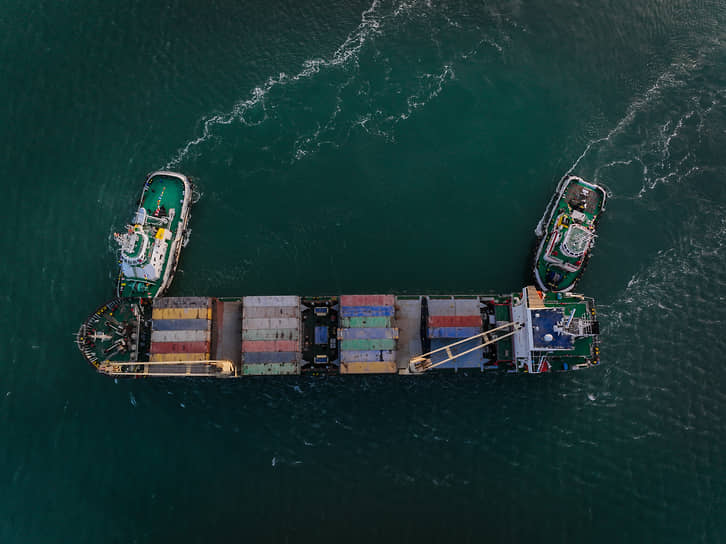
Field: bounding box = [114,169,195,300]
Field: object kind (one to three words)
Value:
boat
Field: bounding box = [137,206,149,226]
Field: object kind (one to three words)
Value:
boat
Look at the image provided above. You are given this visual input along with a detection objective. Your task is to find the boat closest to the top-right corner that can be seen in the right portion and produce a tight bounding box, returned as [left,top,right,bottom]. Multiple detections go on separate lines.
[532,174,606,294]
